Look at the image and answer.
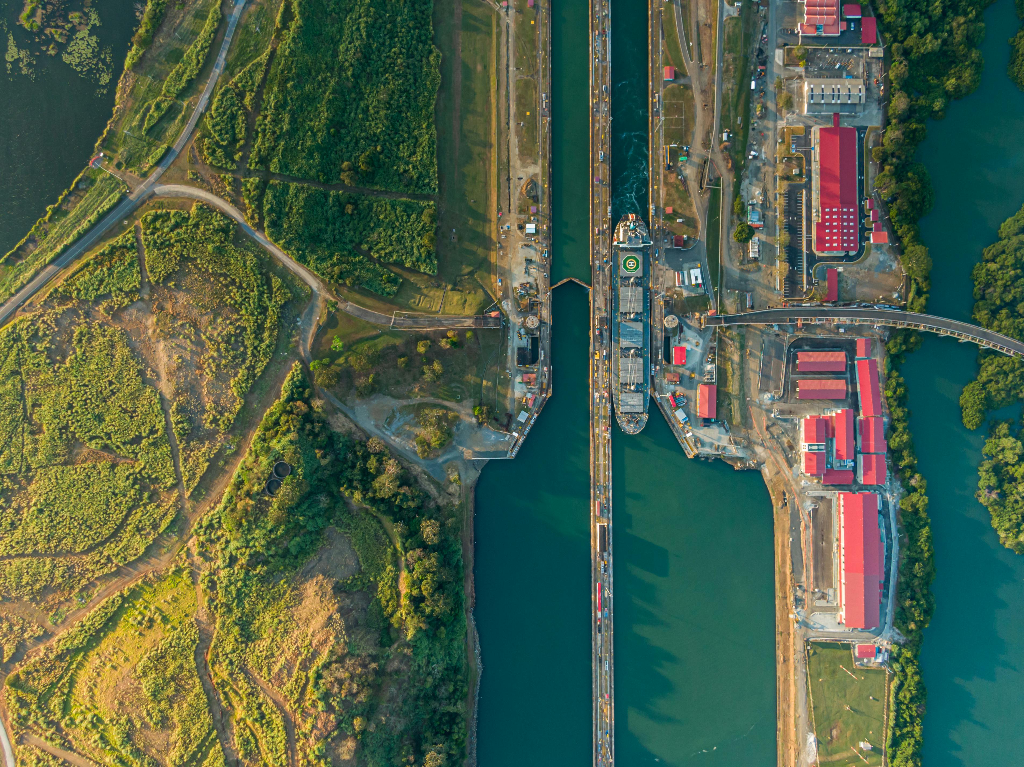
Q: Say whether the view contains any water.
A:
Yes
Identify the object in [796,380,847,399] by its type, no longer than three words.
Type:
building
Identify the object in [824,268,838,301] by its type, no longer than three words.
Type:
shed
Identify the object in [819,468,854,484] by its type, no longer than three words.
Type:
building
